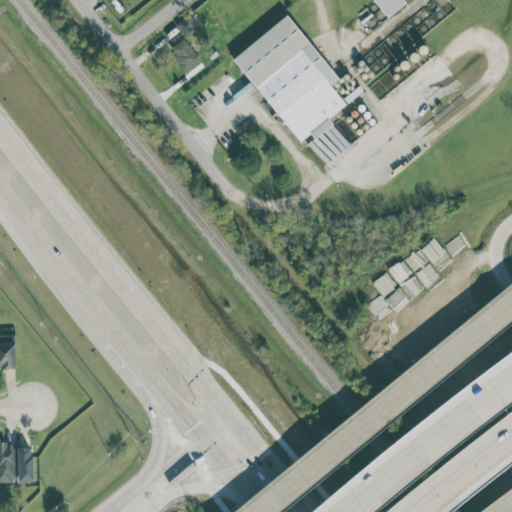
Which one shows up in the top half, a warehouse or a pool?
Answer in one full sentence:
What appears in the top half is a warehouse.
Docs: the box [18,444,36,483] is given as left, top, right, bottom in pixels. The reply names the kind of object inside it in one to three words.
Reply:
house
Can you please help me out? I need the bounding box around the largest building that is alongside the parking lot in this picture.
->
[233,15,348,142]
